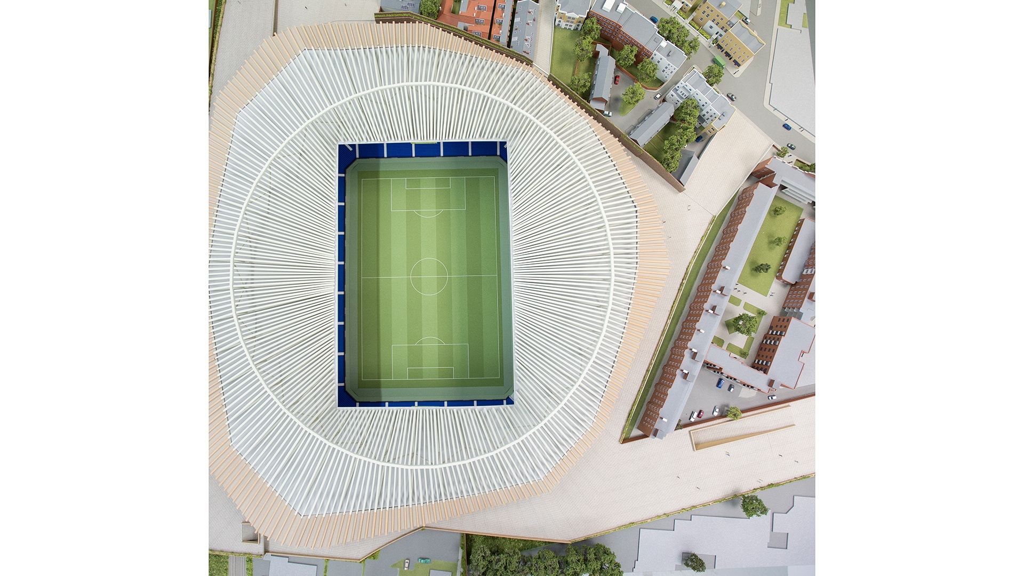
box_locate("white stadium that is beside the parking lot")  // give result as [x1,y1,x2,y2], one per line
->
[208,22,670,549]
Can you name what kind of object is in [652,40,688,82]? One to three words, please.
house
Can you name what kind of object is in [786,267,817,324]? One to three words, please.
building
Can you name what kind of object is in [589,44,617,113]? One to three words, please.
house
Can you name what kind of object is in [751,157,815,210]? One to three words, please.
building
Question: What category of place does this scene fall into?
sports ground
